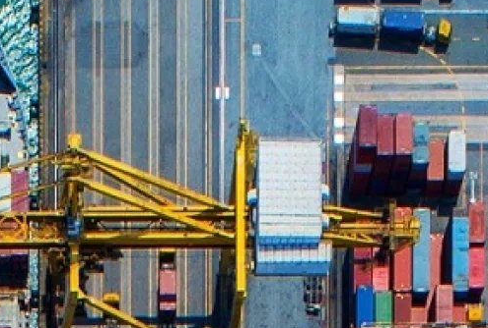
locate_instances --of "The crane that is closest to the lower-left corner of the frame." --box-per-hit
[0,117,422,328]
